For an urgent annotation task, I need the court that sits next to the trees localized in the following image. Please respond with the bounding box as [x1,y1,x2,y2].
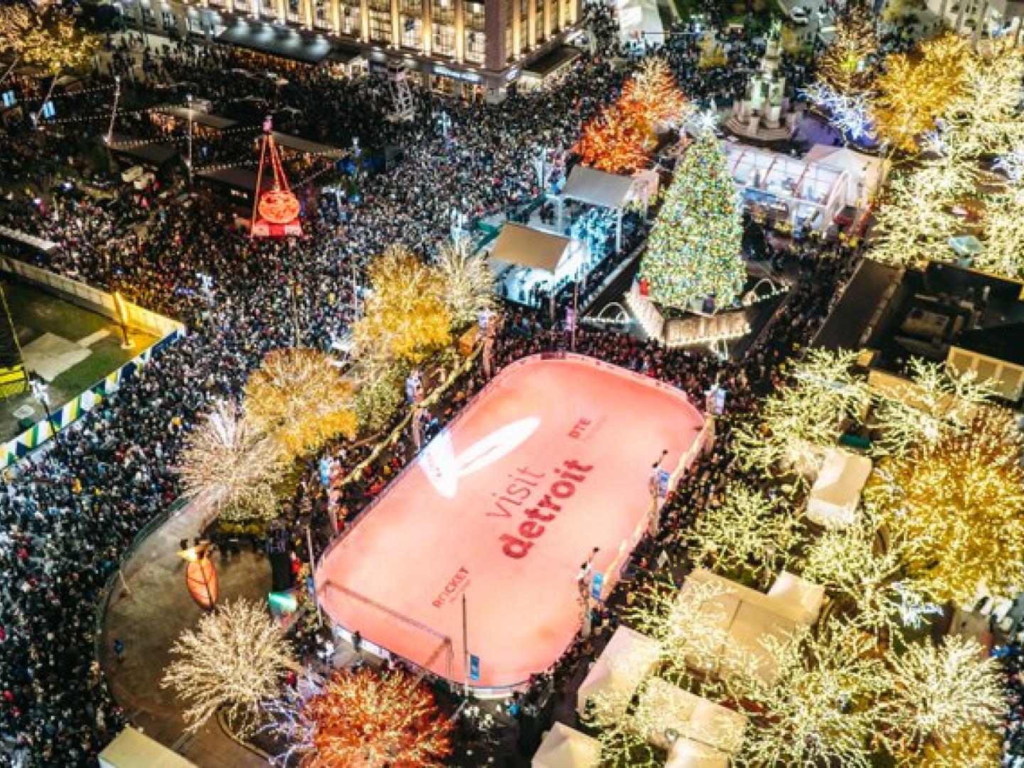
[309,344,712,694]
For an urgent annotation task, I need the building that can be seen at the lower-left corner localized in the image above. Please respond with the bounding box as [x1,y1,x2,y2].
[97,726,196,768]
